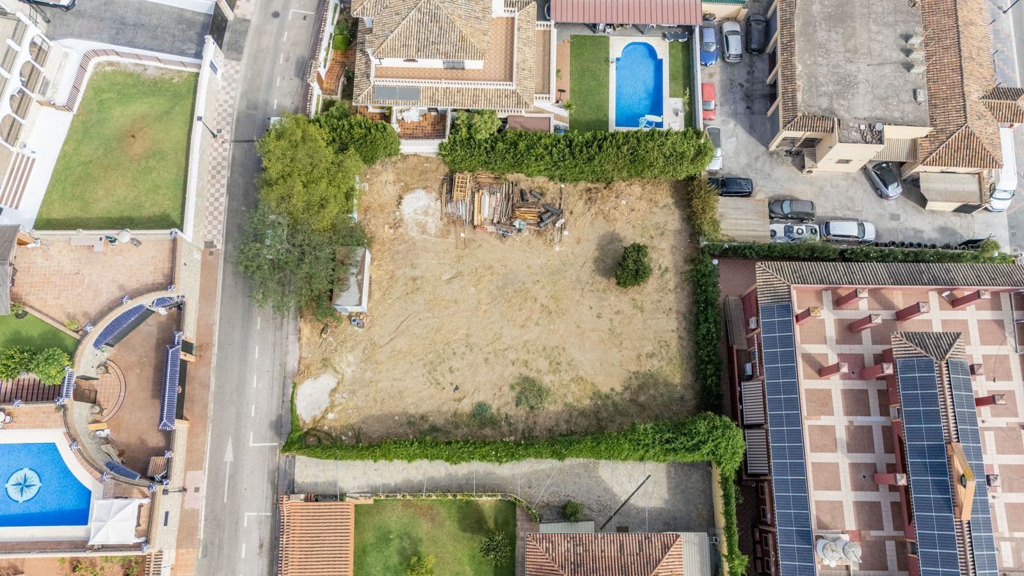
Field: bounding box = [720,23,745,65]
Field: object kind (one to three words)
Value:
car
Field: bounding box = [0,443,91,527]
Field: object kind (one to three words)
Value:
swimming pool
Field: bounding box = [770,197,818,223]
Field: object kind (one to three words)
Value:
car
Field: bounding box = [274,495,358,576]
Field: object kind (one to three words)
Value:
building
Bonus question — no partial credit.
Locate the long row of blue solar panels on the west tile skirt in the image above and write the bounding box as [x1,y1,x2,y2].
[760,303,814,576]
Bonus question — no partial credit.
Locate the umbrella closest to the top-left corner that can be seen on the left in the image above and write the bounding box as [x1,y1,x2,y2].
[119,232,137,247]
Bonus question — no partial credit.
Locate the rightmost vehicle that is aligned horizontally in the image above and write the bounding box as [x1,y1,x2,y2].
[819,217,876,245]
